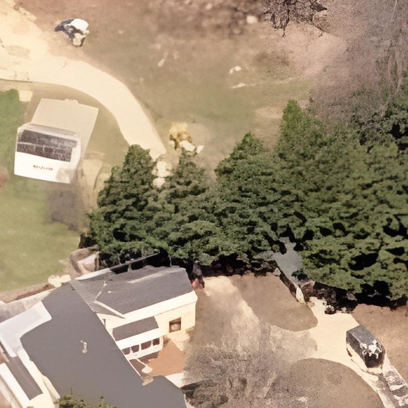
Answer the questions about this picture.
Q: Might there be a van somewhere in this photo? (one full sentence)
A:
Yes, a van appears in the view.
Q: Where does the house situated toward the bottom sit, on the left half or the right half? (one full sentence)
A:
The house situated toward the bottom sits on the left side.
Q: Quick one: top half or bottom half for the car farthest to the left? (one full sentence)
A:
The car farthest to the left sits in the top half of the picture.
